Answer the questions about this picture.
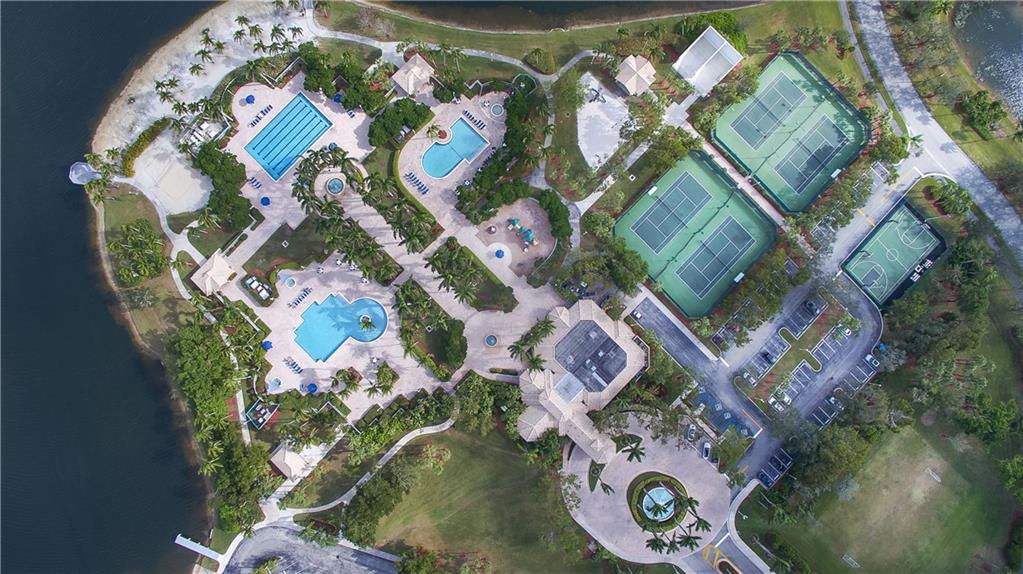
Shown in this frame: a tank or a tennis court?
tennis court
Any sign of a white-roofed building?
Yes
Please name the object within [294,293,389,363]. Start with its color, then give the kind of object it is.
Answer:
blue swimming pool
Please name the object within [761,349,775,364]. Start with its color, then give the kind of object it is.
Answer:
blue vehicle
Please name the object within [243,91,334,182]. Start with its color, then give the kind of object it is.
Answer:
blue swimming pool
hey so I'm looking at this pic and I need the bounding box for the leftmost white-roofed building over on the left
[189,249,236,295]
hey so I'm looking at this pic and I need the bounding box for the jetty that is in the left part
[175,534,221,562]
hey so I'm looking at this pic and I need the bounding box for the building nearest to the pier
[269,445,308,482]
